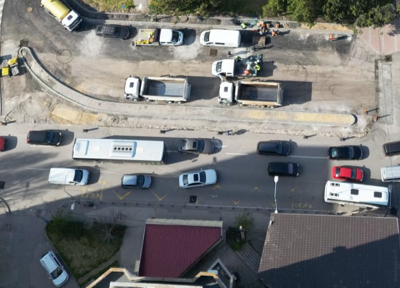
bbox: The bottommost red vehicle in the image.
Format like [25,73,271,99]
[331,164,364,181]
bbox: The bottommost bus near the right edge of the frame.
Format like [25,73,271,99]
[323,180,394,209]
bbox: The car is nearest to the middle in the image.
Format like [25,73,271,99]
[179,139,215,155]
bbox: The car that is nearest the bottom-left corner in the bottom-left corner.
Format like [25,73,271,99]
[37,248,70,288]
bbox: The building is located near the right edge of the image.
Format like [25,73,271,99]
[257,212,400,288]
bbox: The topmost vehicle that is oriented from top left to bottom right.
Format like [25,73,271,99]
[37,0,88,33]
